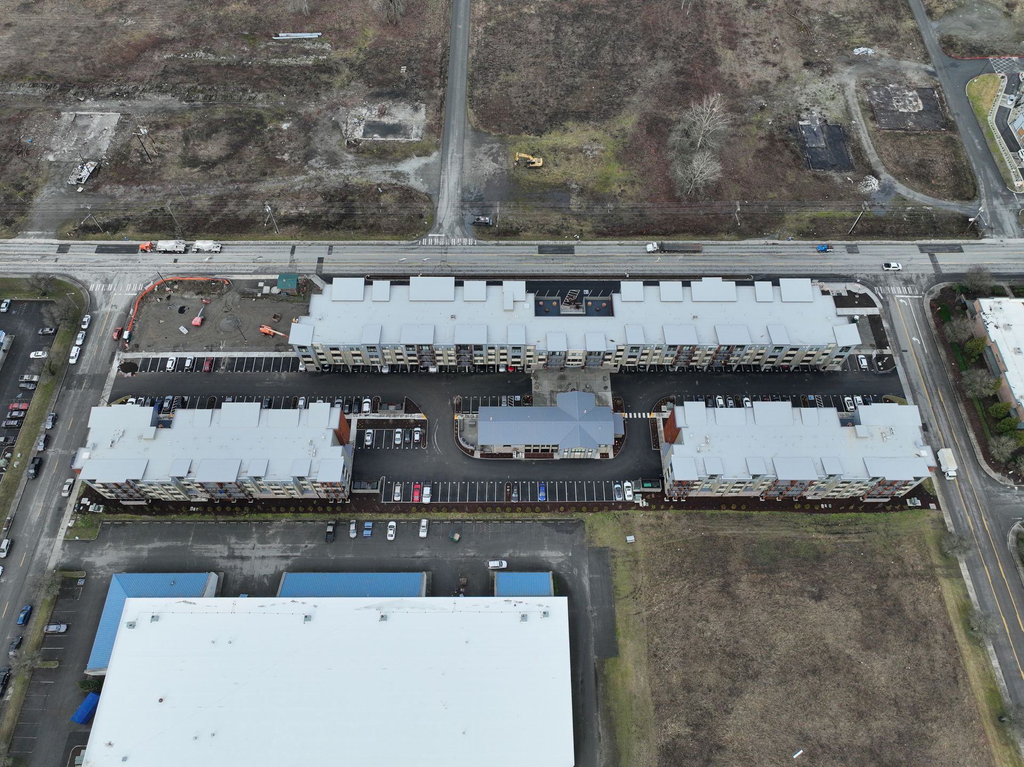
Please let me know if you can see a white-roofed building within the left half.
Yes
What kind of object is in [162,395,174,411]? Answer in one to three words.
vehicle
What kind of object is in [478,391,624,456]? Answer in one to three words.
building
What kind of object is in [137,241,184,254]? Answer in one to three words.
vehicle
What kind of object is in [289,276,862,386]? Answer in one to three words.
building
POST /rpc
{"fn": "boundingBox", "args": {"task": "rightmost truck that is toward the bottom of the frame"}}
[940,447,961,479]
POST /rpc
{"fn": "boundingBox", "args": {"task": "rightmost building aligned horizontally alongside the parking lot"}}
[660,401,937,511]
